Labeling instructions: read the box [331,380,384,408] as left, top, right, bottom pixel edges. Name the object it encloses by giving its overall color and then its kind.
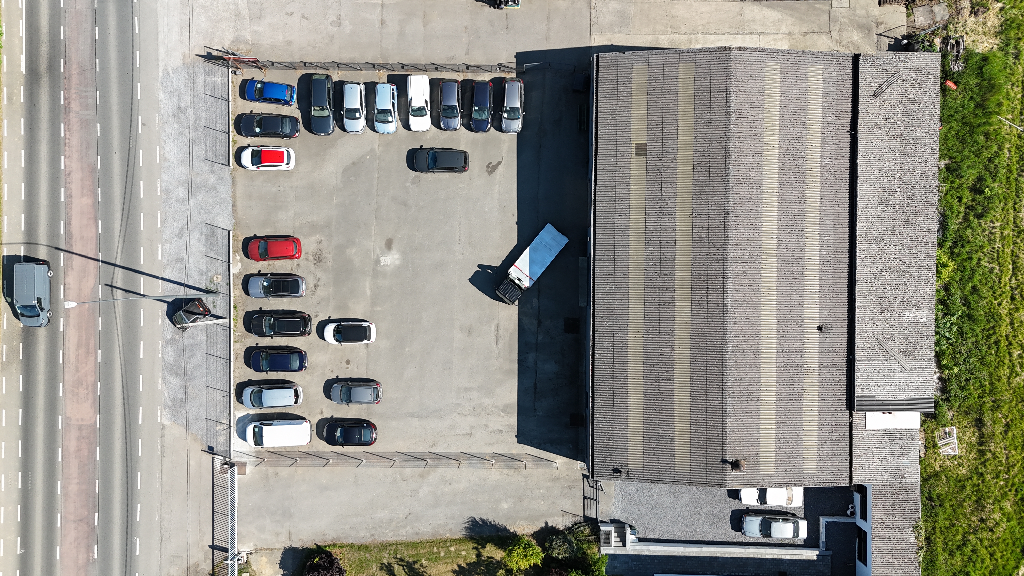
gray car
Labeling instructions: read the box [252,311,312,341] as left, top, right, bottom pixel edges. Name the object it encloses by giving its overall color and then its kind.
black car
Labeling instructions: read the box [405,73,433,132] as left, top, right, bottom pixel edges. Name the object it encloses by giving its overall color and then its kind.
white van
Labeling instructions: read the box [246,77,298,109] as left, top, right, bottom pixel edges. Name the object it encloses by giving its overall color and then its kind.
blue car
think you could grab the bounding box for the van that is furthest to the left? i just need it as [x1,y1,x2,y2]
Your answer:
[16,262,57,327]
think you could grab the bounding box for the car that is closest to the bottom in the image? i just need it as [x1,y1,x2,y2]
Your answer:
[739,512,806,542]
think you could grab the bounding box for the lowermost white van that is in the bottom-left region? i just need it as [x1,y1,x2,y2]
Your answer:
[246,420,313,450]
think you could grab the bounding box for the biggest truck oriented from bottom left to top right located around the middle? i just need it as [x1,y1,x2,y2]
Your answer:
[494,223,568,306]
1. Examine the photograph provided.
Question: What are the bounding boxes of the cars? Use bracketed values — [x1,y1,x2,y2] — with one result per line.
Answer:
[436,80,463,132]
[243,382,304,411]
[252,347,309,375]
[307,75,337,137]
[246,77,298,109]
[415,146,469,175]
[739,512,806,542]
[498,79,526,135]
[736,488,803,511]
[325,420,377,449]
[242,110,302,140]
[371,84,398,135]
[331,380,384,408]
[338,82,367,135]
[252,311,312,341]
[176,298,214,333]
[324,319,376,348]
[249,271,307,302]
[468,81,495,134]
[242,143,297,172]
[249,234,303,263]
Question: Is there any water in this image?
No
